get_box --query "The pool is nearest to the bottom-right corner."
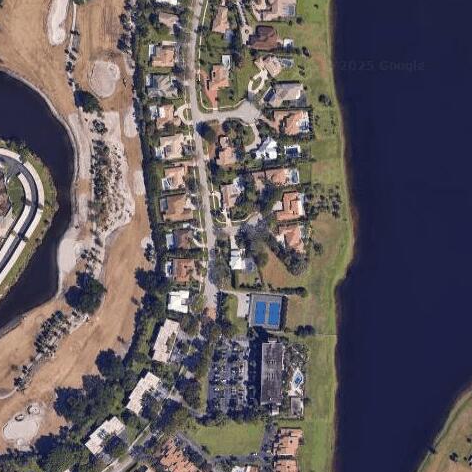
[289,367,304,396]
